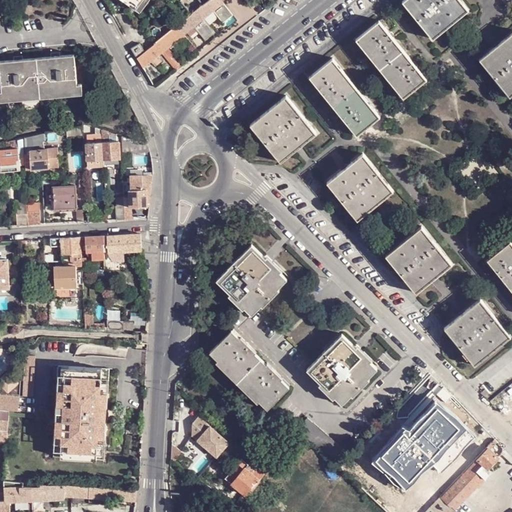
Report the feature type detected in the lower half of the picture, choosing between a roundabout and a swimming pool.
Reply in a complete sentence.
Visible in the lower half of the picture is a swimming pool.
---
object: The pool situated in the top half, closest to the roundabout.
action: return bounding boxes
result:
[132,154,149,168]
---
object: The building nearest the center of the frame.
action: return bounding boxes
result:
[216,243,288,318]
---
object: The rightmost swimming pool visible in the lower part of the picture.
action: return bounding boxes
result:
[188,440,211,474]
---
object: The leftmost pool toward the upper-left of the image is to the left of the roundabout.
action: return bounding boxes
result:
[46,130,62,147]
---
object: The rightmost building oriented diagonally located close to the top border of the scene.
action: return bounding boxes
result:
[356,18,427,100]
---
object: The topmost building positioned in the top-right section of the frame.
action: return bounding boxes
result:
[402,0,468,41]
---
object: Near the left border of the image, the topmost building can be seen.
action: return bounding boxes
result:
[0,52,84,108]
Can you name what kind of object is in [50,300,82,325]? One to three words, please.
swimming pool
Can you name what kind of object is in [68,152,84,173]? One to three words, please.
swimming pool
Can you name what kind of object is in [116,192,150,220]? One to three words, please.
house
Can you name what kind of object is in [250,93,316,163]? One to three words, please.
building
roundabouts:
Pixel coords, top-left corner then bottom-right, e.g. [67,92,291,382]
[168,138,234,204]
